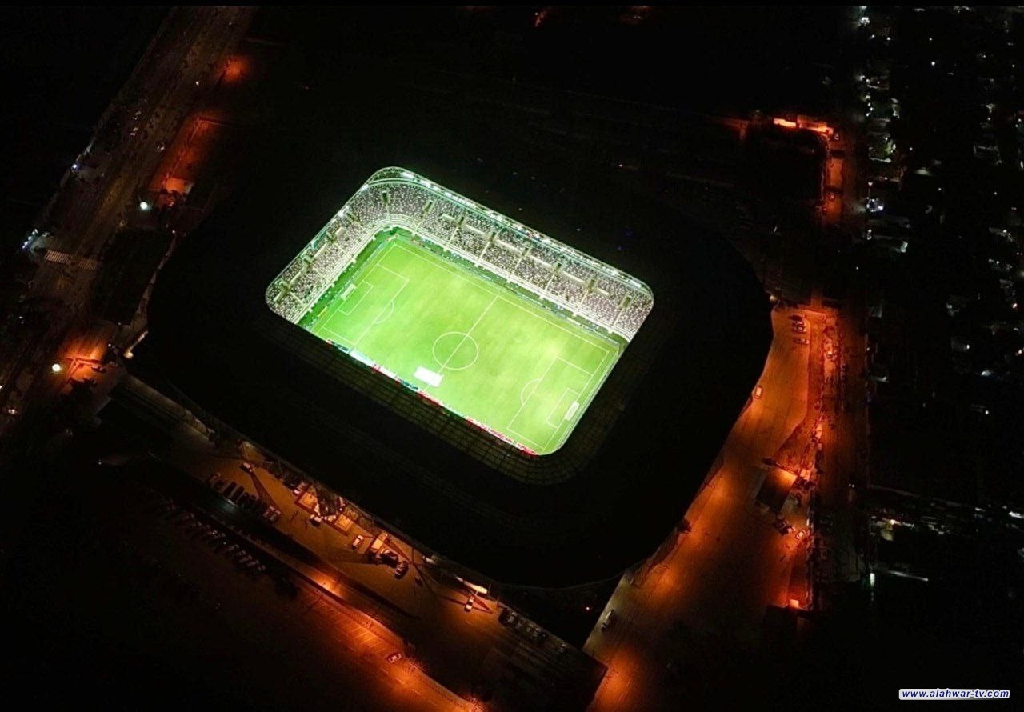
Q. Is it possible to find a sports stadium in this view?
Yes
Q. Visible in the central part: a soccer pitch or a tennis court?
soccer pitch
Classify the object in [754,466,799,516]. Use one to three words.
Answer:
shed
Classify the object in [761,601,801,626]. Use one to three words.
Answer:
building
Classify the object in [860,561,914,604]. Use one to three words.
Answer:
house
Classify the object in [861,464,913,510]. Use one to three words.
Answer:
house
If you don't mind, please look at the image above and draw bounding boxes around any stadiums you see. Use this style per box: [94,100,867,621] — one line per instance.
[138,98,770,649]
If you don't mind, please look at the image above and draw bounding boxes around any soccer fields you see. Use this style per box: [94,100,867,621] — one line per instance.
[296,228,626,451]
